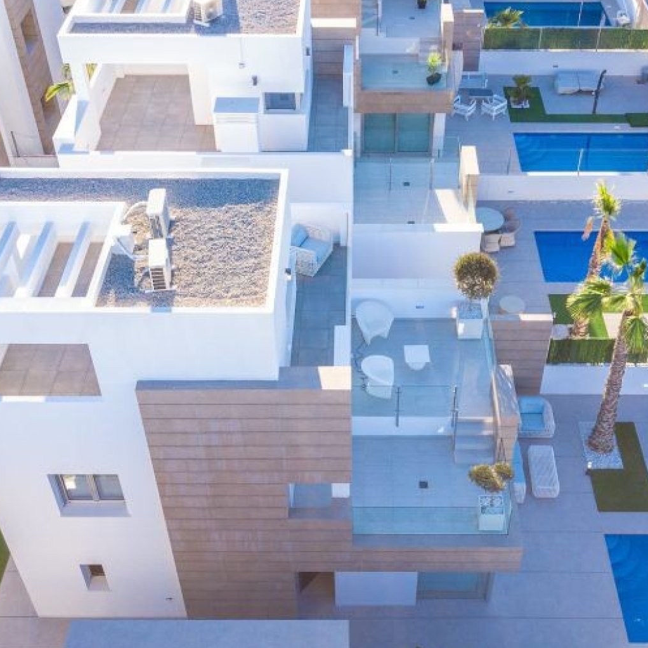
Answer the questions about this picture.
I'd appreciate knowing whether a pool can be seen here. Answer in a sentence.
Yes, a pool is visible in the scene.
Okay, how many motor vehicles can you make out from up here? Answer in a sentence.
The count of motor vehicles is 0.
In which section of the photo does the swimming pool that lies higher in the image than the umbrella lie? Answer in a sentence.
The swimming pool that lies higher in the image than the umbrella sits in the top right section of the image.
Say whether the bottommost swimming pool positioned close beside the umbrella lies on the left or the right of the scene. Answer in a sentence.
The bottommost swimming pool positioned close beside the umbrella appears in the right half of the scene.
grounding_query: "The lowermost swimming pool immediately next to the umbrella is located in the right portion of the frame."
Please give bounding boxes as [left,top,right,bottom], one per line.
[510,131,648,170]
